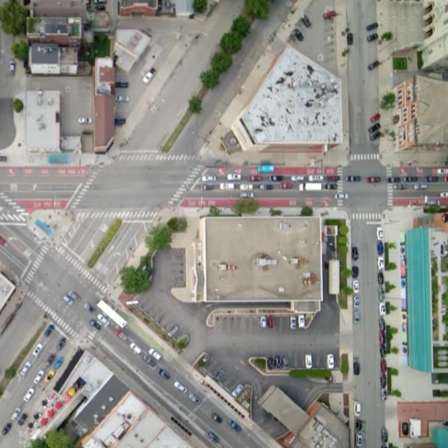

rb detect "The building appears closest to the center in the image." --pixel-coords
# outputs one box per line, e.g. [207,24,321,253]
[195,216,322,311]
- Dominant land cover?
paved ground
